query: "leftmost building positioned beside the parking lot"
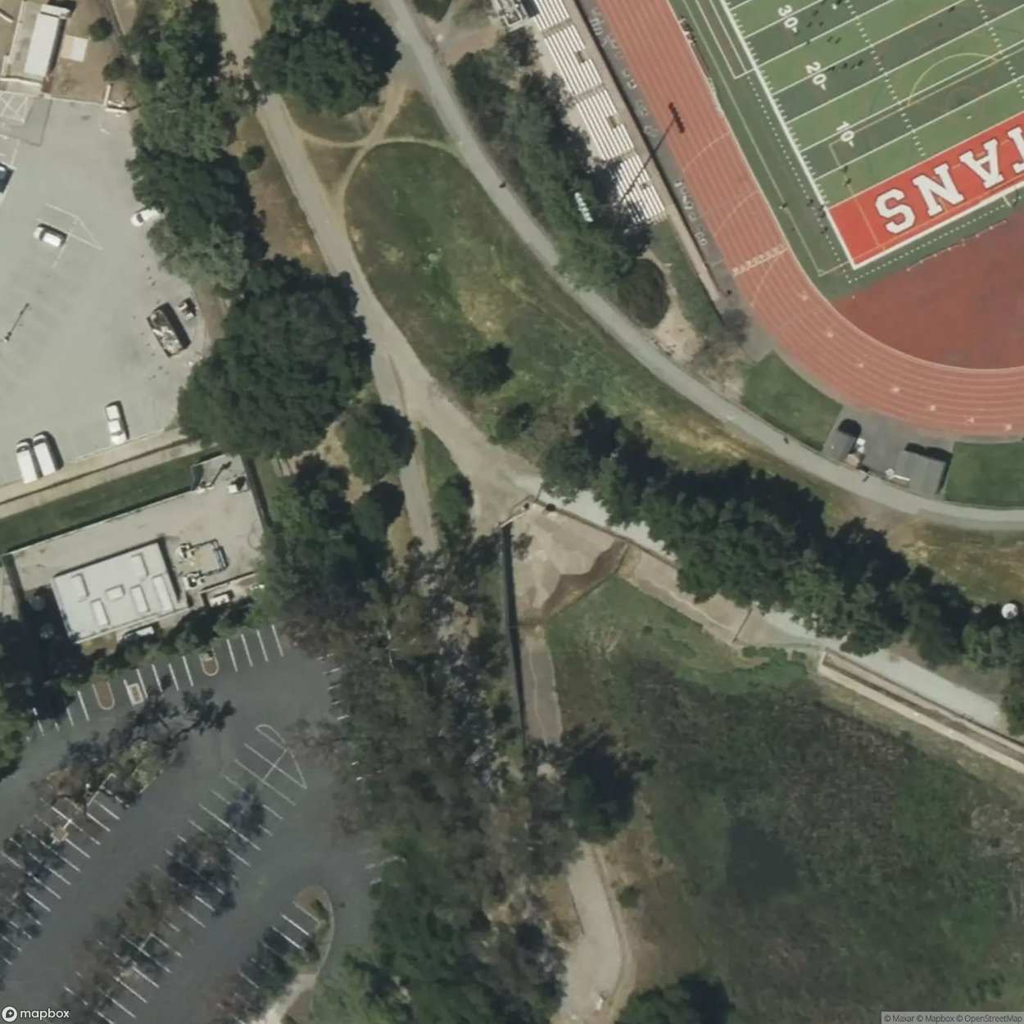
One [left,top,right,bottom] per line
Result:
[26,16,66,79]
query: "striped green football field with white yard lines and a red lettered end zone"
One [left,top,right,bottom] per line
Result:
[670,0,1024,301]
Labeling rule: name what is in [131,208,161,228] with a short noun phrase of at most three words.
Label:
car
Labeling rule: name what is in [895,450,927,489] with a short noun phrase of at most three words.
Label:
shed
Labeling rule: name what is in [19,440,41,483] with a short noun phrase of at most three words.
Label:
vehicle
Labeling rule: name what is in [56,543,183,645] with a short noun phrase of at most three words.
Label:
building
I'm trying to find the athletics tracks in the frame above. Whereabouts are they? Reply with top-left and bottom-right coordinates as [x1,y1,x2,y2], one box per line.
[599,0,1024,433]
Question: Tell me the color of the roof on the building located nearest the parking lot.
white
